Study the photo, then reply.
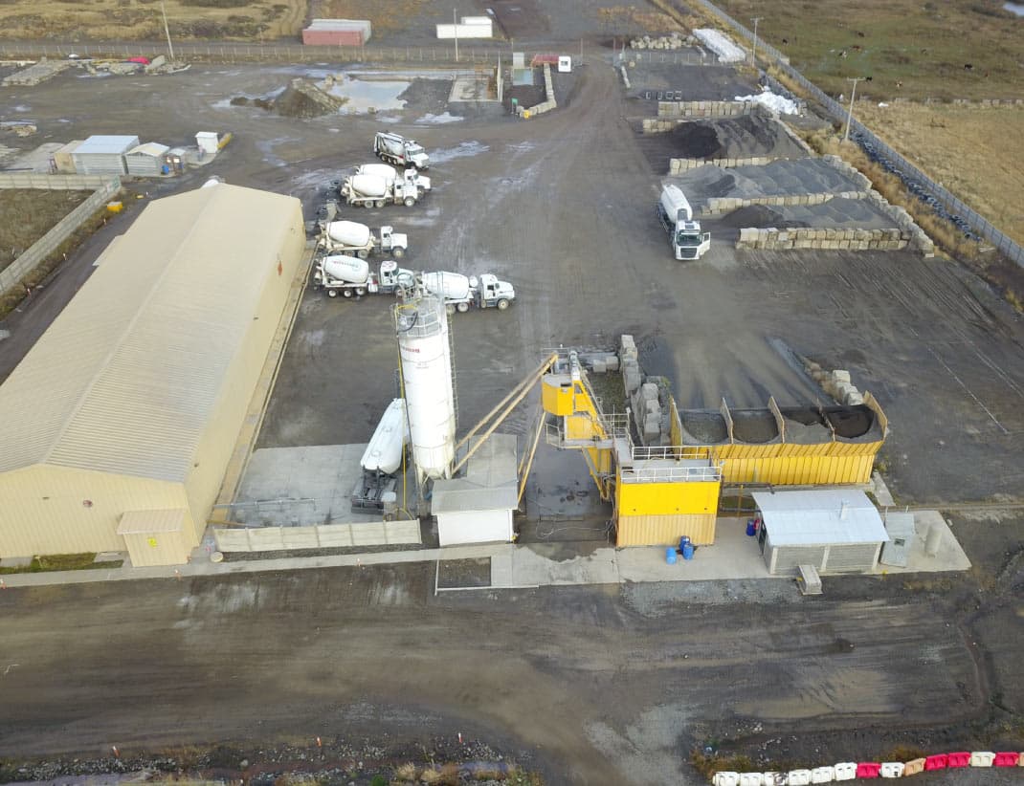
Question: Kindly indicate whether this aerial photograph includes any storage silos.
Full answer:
Yes, this view includes a storage silo.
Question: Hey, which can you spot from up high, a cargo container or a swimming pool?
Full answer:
There is a cargo container in the scene.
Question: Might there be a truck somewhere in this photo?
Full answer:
Yes, there's a truck here.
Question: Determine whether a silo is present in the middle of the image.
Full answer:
Yes, a silo is visible in the middle of the image.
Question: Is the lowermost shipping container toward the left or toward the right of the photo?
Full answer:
The lowermost shipping container sits on the right side.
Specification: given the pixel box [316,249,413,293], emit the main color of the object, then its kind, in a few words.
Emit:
white truck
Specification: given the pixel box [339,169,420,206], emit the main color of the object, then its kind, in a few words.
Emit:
white truck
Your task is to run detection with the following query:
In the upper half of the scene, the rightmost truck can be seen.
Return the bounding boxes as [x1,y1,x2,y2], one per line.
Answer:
[654,183,713,256]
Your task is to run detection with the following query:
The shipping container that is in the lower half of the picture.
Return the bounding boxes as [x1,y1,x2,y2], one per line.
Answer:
[616,511,718,545]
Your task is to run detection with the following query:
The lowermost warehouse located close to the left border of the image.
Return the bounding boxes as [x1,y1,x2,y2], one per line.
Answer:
[0,184,306,566]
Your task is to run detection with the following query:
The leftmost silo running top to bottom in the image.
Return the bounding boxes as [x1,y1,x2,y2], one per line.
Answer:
[395,287,466,509]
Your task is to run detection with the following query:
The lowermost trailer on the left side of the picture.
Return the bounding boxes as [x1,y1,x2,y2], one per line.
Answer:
[350,393,412,510]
